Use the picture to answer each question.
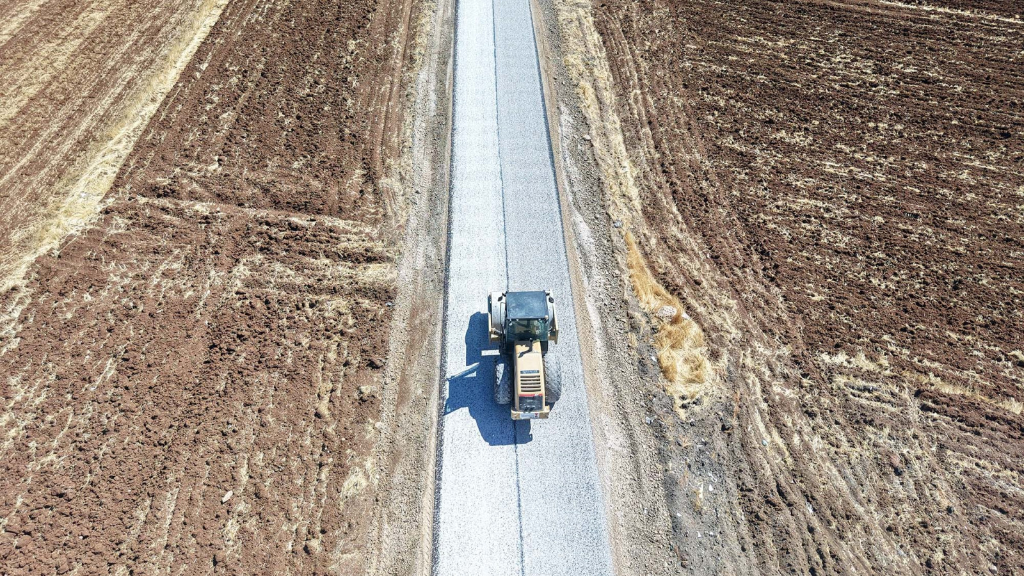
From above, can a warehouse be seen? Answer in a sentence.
No, this view has no warehouse in it.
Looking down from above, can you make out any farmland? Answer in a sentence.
Yes, there's farmland in this view.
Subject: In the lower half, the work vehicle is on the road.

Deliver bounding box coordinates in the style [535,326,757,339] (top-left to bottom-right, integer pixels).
[490,287,562,421]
